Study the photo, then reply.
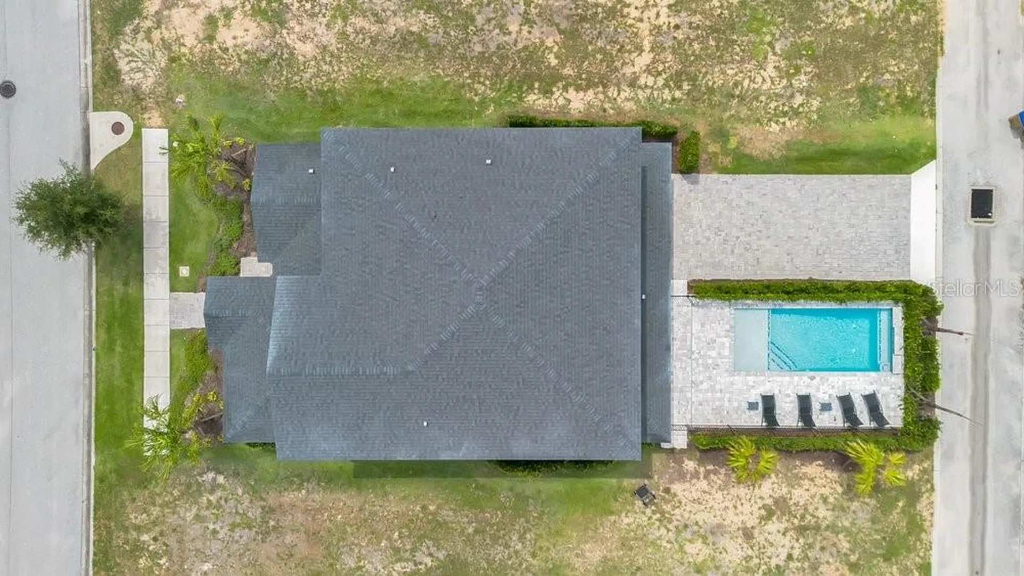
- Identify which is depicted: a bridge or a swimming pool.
swimming pool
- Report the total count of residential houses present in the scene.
1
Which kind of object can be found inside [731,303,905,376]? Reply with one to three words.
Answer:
swimming pool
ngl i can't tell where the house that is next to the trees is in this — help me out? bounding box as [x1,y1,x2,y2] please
[202,127,673,461]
